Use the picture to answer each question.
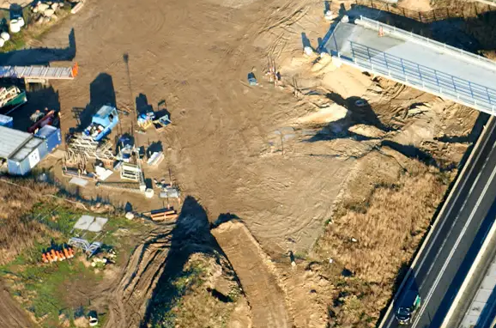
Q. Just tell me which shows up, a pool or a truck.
truck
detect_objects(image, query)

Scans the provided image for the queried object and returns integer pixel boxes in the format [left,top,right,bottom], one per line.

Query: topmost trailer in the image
[0,67,75,91]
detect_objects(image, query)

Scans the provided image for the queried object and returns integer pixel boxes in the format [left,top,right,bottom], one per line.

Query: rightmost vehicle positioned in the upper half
[79,100,122,143]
